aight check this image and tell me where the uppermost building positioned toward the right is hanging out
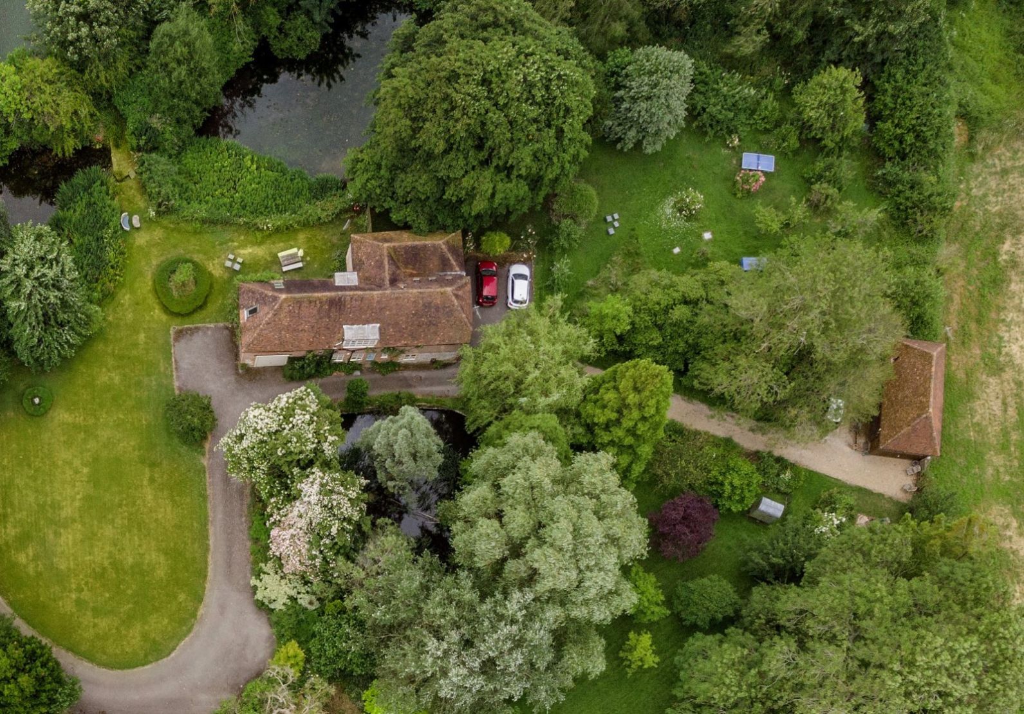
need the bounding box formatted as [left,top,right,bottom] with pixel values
[868,337,946,460]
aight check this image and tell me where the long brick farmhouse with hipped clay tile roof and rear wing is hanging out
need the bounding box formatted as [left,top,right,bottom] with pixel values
[239,229,473,368]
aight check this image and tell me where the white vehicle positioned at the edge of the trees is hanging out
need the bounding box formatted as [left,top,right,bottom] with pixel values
[507,264,534,313]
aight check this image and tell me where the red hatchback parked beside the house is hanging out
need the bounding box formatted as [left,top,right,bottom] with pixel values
[477,261,502,308]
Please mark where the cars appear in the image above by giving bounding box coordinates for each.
[507,264,534,313]
[477,261,502,308]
